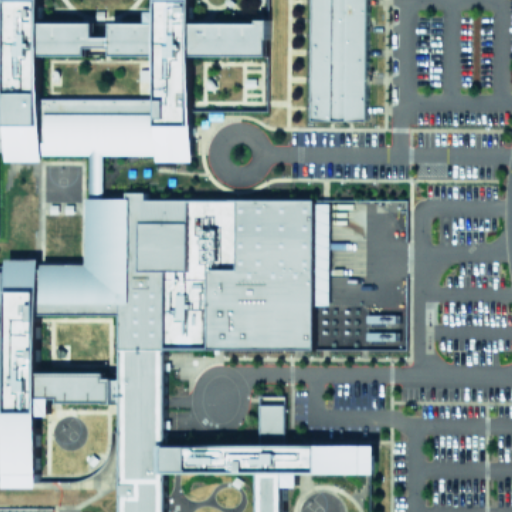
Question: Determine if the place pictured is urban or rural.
urban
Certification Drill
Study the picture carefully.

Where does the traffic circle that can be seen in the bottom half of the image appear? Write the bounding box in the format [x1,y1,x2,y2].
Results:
[190,364,254,436]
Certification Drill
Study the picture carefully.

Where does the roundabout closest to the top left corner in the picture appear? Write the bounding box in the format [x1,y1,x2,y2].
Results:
[212,119,272,185]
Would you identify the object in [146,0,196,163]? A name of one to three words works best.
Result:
building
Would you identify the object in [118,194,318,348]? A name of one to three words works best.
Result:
building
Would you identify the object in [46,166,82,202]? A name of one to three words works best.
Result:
basketball court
